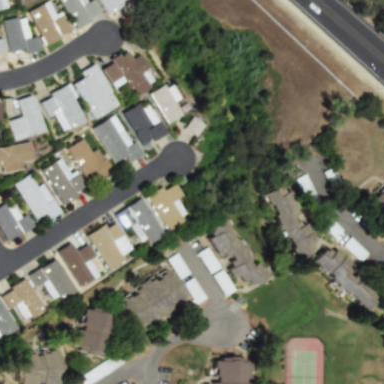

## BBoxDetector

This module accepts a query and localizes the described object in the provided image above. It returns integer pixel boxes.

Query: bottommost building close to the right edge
[318,252,378,310]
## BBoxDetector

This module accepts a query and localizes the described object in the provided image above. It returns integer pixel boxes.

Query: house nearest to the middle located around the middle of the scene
[150,186,188,230]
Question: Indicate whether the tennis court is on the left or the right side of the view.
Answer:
right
